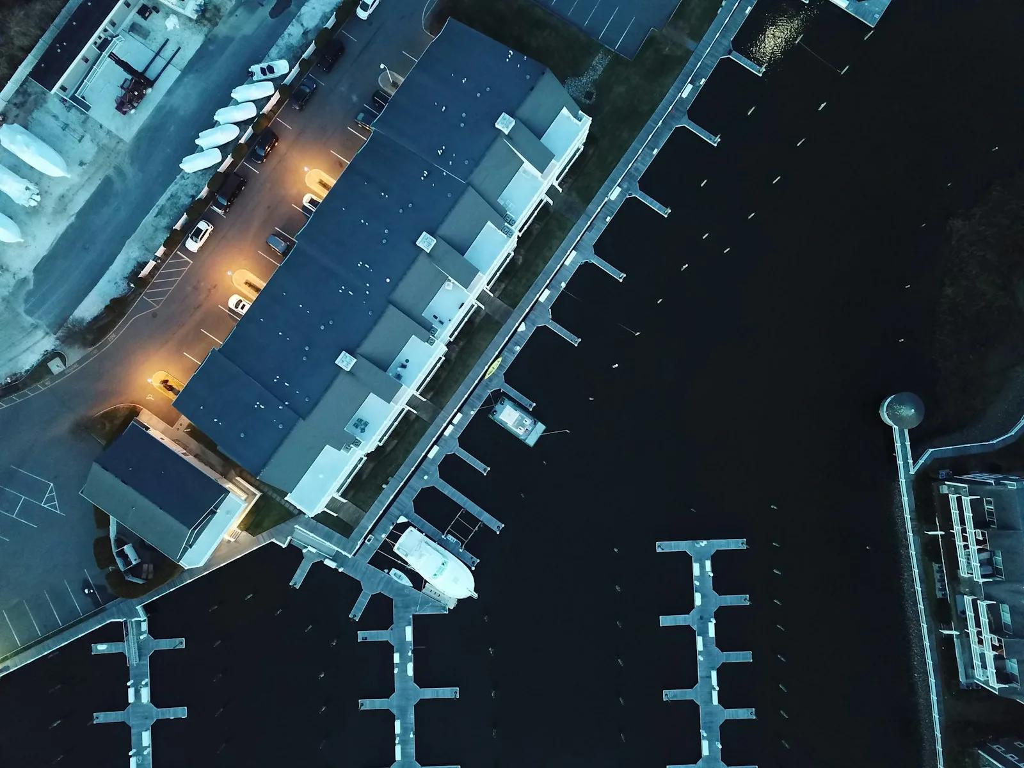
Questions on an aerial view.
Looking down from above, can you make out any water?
Yes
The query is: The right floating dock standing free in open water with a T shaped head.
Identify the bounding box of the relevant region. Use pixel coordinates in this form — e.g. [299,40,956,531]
[655,538,759,768]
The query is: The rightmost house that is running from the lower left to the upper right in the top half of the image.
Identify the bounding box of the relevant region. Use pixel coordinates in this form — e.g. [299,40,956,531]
[171,17,591,517]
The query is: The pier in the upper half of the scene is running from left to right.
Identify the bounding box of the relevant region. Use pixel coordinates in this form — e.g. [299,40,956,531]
[822,0,892,30]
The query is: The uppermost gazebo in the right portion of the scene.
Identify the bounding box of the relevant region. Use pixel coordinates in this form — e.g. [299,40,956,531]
[879,392,928,431]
